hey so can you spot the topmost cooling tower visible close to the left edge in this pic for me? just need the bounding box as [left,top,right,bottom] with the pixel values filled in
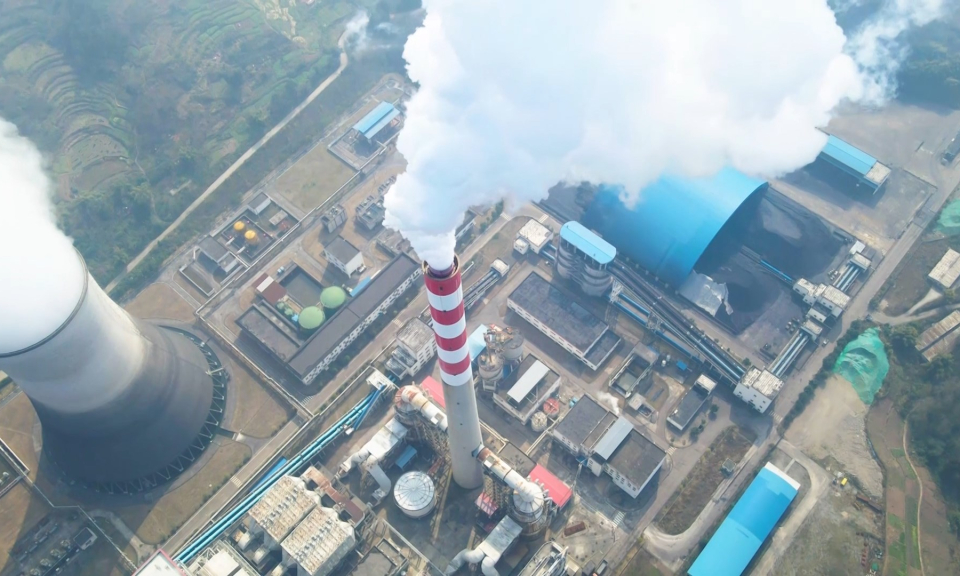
[0,231,238,508]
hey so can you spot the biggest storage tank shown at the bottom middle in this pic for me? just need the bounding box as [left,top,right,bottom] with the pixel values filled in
[395,472,437,515]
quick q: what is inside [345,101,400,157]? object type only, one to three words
shed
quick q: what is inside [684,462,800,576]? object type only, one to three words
warehouse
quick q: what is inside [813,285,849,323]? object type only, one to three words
house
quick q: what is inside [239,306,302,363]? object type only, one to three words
building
